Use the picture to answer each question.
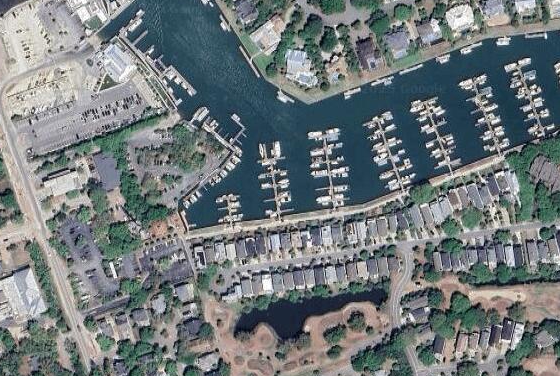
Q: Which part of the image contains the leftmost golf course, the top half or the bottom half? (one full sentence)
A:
You can find the leftmost golf course in the bottom half.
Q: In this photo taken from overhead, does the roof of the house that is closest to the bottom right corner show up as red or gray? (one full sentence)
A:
The roof of the house that is closest to the bottom right corner looks gray in the image.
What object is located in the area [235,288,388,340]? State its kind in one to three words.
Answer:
pond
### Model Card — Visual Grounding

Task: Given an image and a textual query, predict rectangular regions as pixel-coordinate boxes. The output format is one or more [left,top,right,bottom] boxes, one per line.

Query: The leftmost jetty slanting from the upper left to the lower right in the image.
[114,15,193,99]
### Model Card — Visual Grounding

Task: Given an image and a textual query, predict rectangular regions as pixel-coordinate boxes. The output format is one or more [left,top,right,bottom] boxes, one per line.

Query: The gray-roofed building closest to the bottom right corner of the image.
[533,330,556,354]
